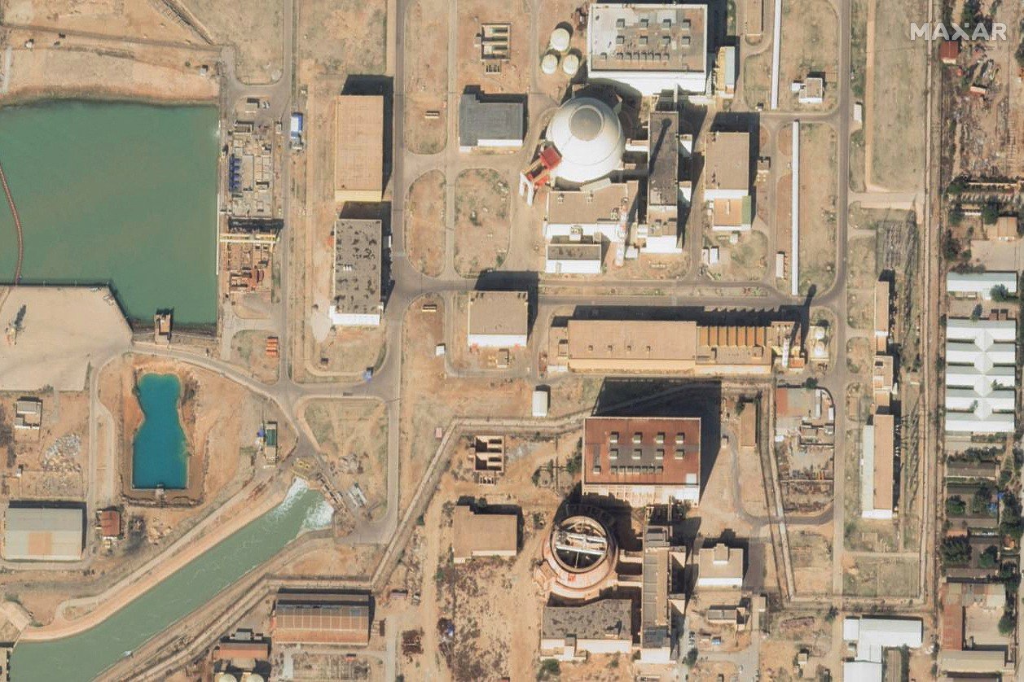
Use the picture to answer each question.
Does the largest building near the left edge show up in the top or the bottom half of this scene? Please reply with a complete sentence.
The bottom half of the photo is where the largest building near the left edge is.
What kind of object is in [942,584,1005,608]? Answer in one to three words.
shed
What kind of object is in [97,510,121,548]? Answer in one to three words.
house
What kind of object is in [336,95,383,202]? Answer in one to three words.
building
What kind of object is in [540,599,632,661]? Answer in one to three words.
building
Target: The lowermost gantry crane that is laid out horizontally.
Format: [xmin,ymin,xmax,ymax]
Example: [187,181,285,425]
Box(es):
[219,233,278,258]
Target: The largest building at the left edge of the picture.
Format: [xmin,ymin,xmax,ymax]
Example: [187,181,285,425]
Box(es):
[4,508,83,560]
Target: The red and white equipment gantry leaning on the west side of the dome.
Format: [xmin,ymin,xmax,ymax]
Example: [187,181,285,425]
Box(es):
[519,146,560,206]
